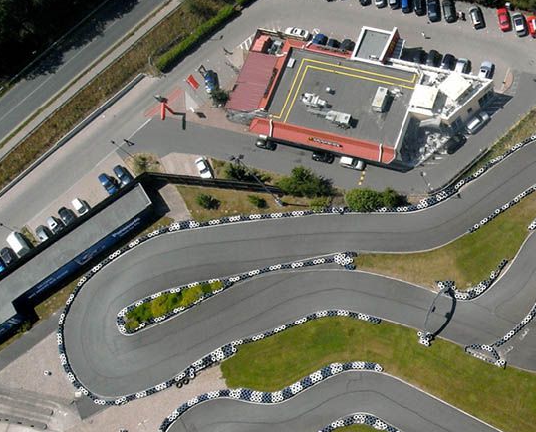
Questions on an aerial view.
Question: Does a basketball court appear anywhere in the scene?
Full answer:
No, I can see no basketball court in this picture.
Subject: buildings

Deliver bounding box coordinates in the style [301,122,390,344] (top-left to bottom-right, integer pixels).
[227,26,497,172]
[0,182,159,337]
